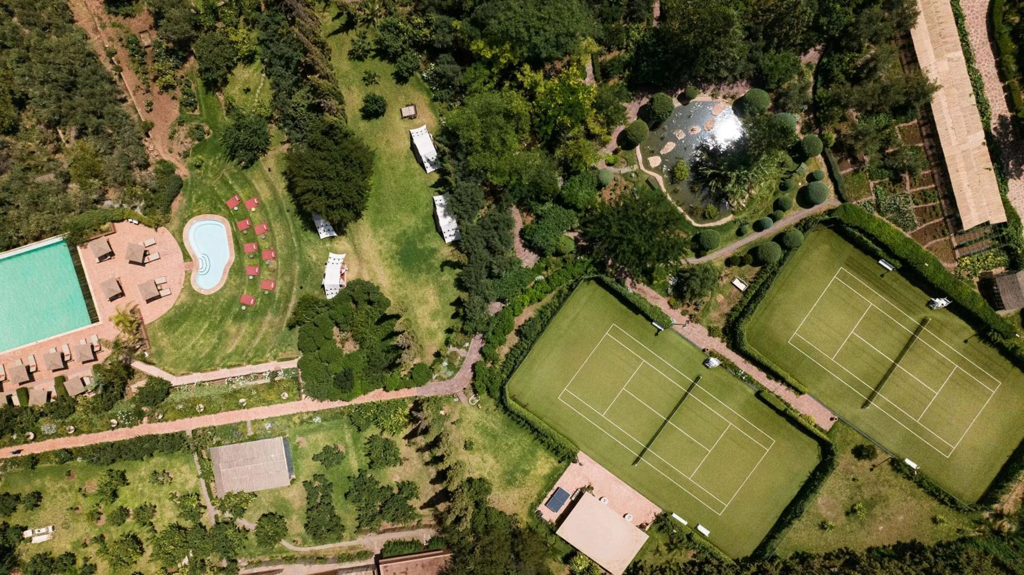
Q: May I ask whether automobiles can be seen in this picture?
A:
No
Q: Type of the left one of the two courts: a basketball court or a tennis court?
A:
tennis court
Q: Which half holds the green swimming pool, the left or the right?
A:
left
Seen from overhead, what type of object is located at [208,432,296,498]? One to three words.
shed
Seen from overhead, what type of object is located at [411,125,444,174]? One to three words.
tent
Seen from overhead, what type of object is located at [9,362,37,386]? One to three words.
umbrella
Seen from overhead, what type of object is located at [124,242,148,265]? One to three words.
umbrella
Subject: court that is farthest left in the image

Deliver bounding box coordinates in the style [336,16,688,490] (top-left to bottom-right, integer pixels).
[505,278,821,561]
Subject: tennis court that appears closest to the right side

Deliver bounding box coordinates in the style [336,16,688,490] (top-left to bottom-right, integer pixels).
[740,222,1024,503]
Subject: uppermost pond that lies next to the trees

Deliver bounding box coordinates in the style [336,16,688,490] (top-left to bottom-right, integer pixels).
[633,94,759,228]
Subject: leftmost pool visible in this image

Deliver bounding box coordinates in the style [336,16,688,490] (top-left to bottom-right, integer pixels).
[0,232,103,354]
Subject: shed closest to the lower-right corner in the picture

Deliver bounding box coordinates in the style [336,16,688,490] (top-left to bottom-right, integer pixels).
[983,270,1024,311]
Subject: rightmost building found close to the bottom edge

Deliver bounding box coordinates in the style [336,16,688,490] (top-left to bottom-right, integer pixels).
[556,487,648,575]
